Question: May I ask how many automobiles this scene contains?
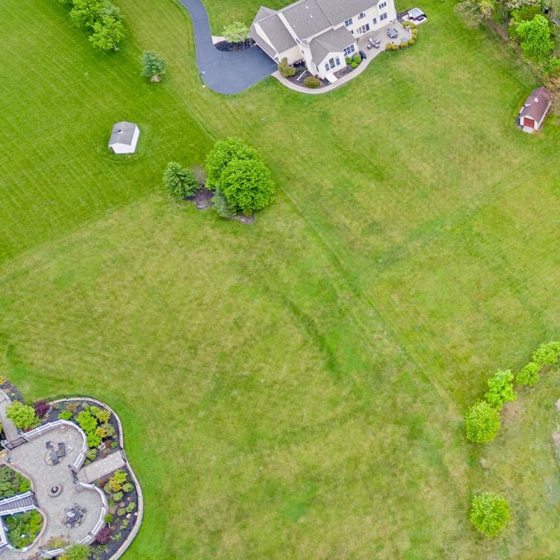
zero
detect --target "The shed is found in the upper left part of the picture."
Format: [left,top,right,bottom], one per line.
[110,118,143,157]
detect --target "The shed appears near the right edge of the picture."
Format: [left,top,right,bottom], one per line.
[520,90,552,134]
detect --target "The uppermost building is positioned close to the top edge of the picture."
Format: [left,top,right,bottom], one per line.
[244,0,398,79]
